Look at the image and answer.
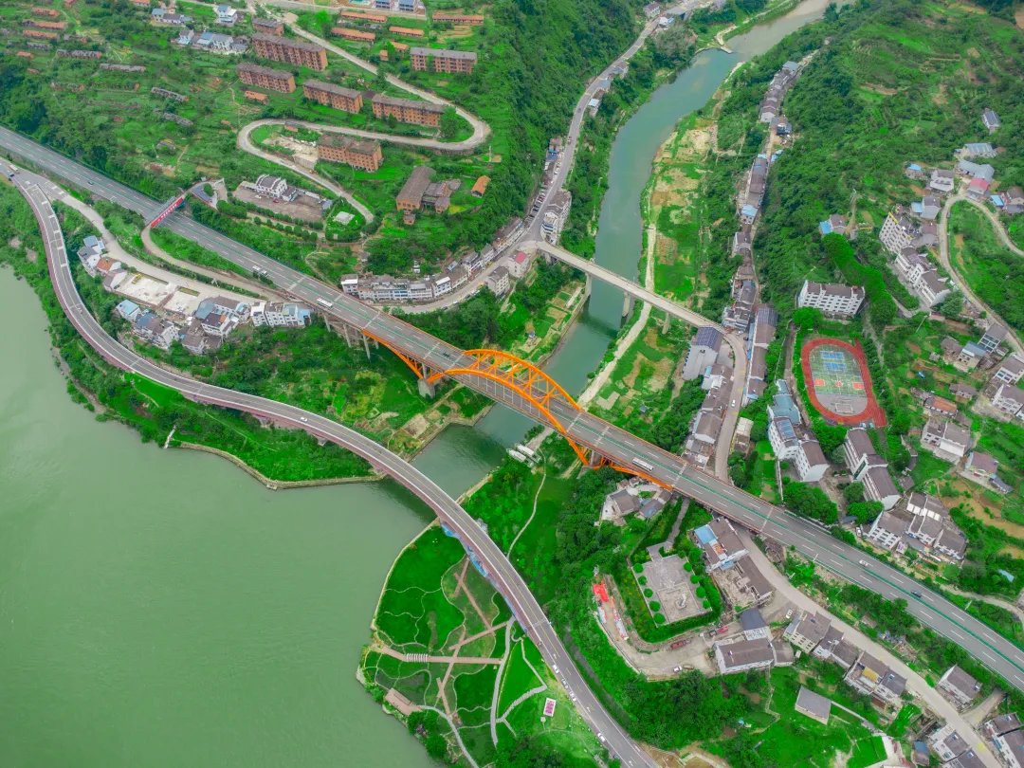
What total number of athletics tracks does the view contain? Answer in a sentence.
I count 1 athletics track.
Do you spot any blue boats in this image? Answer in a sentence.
No, no blue boat can be seen from above.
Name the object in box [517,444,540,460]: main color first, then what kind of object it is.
white boat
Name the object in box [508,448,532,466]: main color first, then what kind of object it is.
white boat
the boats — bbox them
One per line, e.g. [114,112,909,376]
[517,444,540,460]
[508,448,532,466]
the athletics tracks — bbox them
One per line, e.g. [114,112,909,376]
[801,338,887,426]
